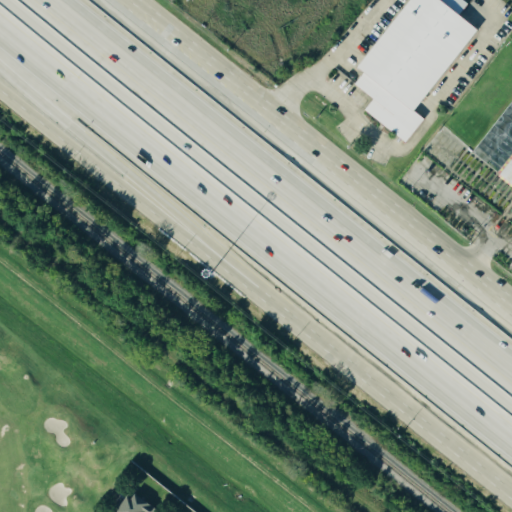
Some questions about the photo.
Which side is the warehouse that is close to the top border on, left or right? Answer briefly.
right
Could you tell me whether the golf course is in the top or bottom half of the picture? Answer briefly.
bottom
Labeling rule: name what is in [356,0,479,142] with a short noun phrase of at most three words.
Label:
warehouse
